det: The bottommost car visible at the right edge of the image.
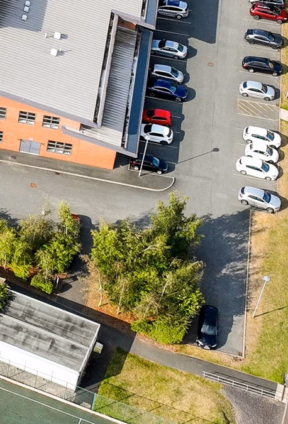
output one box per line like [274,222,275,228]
[236,183,284,213]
